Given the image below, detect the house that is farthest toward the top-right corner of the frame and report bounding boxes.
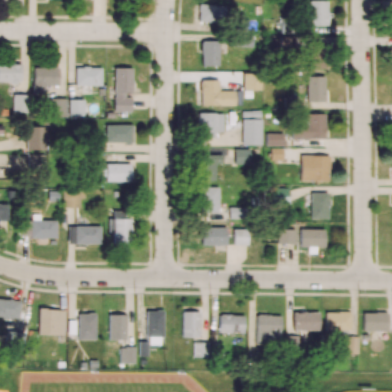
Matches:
[311,0,331,26]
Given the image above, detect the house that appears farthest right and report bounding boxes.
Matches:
[365,313,391,332]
